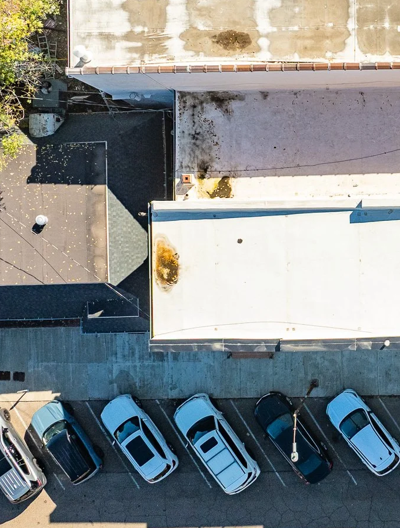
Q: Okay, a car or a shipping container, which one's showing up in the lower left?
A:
car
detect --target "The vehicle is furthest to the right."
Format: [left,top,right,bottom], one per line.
[326,385,400,480]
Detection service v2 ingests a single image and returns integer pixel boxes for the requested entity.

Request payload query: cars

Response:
[102,394,181,487]
[174,392,262,499]
[0,405,49,504]
[253,387,336,489]
[28,395,107,490]
[326,385,400,480]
